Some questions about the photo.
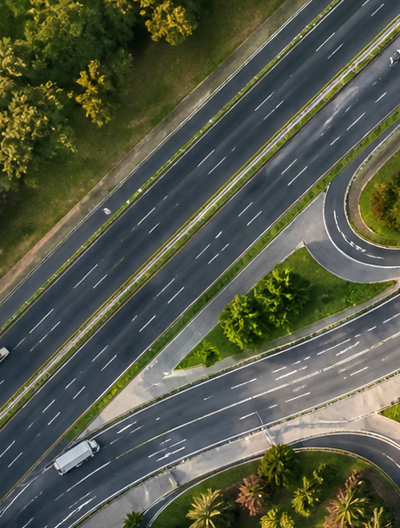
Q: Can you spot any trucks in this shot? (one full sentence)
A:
Yes, a truck appears in the view.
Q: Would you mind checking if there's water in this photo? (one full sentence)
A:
No, there is no water in the image.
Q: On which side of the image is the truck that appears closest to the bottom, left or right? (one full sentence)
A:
You can find the truck that appears closest to the bottom on the left side of the picture.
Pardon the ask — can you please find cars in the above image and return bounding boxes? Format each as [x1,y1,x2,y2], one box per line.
[389,46,400,64]
[0,346,9,363]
